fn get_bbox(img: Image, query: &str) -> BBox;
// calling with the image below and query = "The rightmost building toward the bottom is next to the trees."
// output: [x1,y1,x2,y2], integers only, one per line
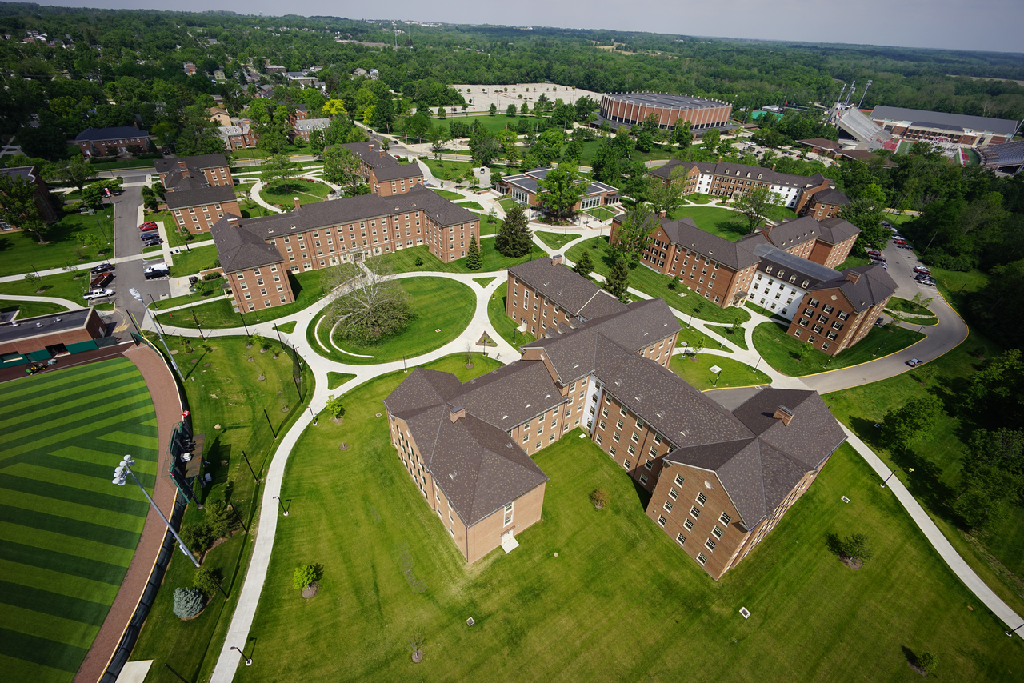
[383,250,850,573]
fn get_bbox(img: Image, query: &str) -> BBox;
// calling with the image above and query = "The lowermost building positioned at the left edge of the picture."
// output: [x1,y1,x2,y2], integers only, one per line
[0,307,104,368]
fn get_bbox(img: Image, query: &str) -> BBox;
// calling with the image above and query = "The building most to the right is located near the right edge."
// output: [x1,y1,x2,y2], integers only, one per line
[869,108,1017,150]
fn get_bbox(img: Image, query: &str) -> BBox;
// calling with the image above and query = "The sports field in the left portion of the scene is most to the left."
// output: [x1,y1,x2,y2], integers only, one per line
[0,357,159,683]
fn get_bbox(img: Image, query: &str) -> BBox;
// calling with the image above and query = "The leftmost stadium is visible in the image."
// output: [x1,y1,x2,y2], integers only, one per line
[576,90,753,142]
